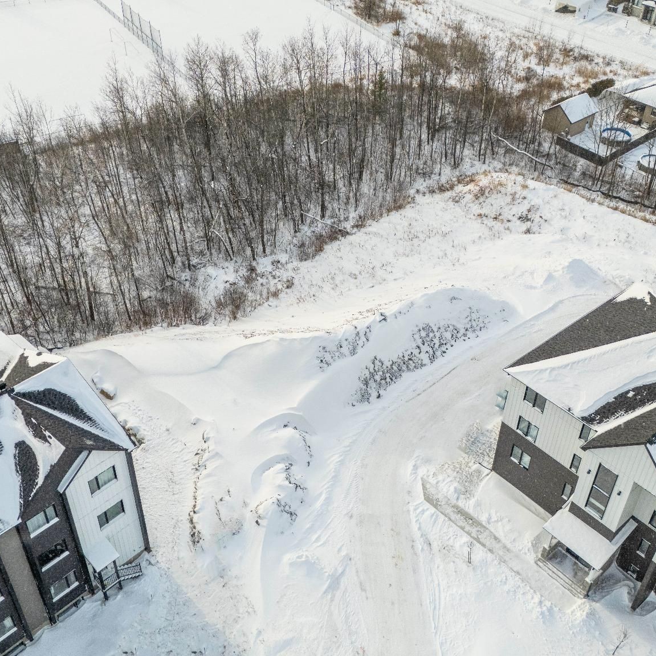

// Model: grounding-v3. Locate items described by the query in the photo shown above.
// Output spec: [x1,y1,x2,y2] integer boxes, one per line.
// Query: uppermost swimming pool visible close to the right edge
[599,130,632,149]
